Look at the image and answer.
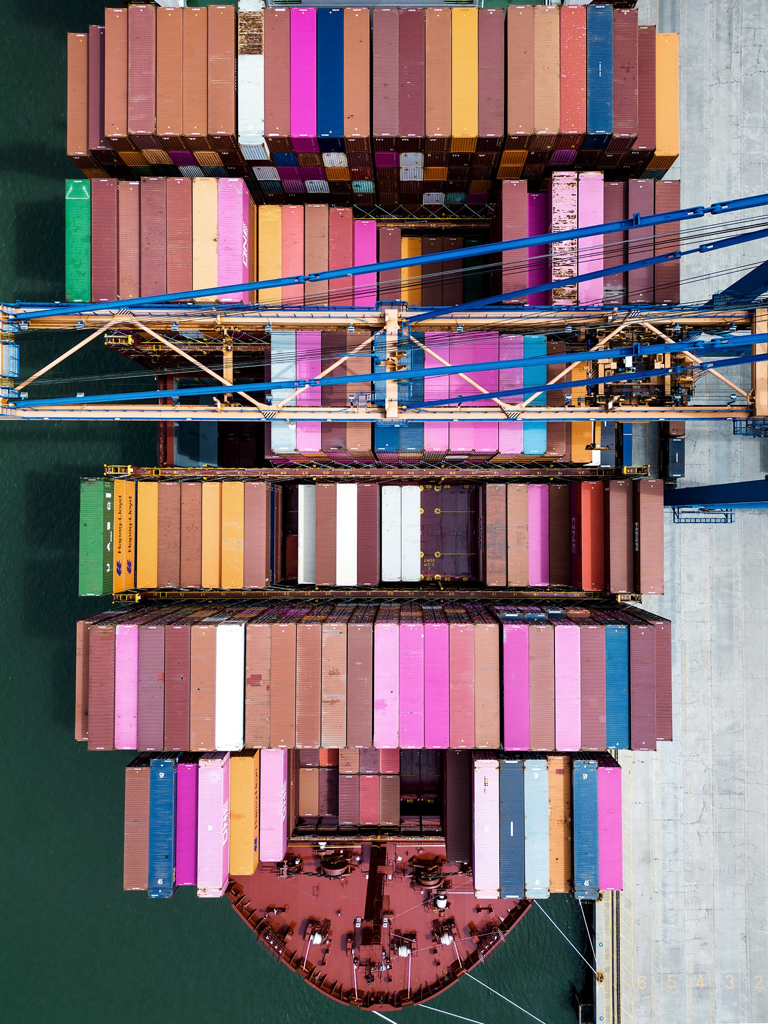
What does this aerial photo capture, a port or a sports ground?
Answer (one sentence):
This image shows a port.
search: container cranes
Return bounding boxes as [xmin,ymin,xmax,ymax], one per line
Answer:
[0,193,768,523]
